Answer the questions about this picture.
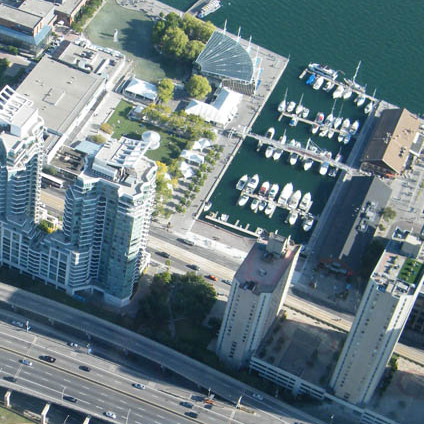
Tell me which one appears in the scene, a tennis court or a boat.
boat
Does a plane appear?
No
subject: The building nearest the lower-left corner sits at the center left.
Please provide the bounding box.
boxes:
[0,210,96,294]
